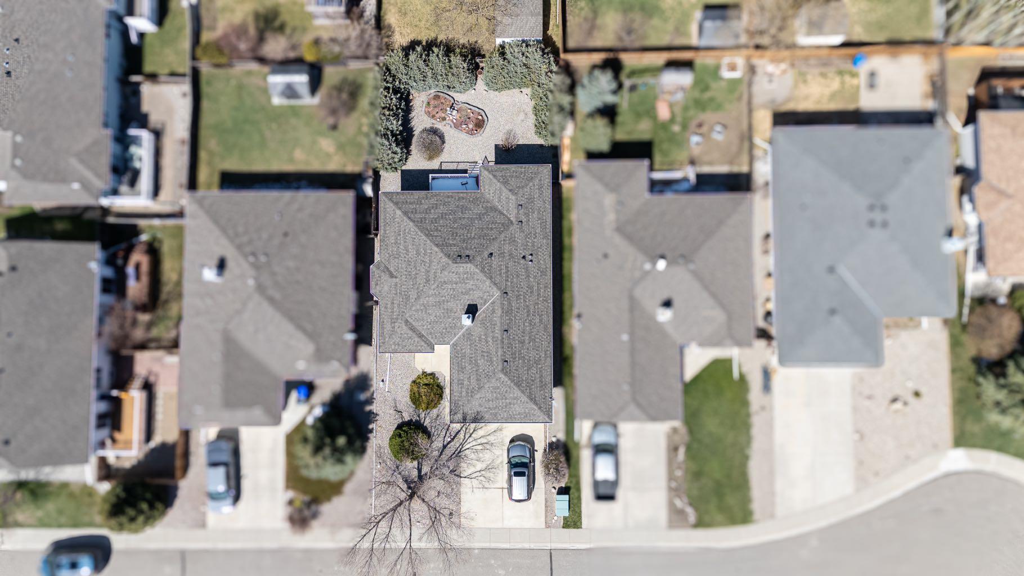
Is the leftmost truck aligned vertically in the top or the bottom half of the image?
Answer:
bottom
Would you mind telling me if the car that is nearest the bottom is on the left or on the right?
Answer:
left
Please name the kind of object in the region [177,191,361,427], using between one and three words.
house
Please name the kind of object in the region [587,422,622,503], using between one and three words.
truck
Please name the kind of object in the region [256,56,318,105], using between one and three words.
shed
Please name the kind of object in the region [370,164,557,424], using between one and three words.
house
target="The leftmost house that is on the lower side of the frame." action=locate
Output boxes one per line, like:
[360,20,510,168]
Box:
[0,240,123,468]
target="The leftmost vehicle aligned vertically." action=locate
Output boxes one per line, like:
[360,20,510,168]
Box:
[201,433,240,515]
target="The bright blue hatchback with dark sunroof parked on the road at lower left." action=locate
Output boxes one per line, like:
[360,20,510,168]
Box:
[42,548,105,576]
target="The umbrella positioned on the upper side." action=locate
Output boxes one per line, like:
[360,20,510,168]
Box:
[845,56,864,73]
